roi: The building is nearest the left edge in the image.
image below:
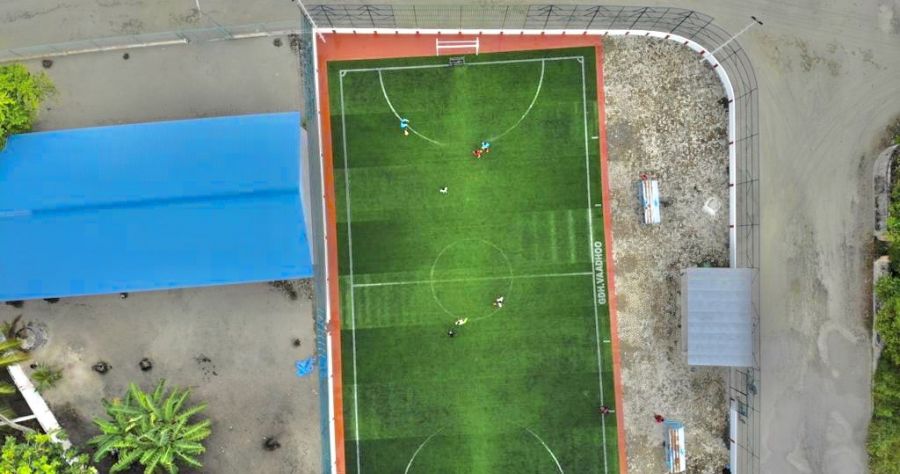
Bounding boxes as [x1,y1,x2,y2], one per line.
[0,110,314,305]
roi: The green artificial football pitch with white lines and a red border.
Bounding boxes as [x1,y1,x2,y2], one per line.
[318,34,627,474]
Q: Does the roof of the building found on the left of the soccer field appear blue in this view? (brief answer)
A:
Yes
